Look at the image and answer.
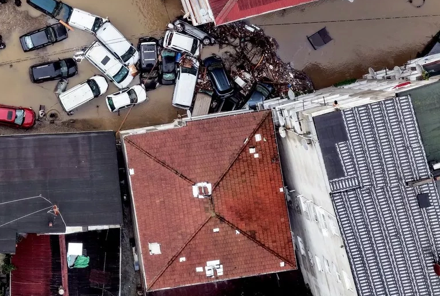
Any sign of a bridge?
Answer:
No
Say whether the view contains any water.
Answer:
Yes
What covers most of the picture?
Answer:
buildings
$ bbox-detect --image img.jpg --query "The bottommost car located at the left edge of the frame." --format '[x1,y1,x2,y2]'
[0,102,36,131]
